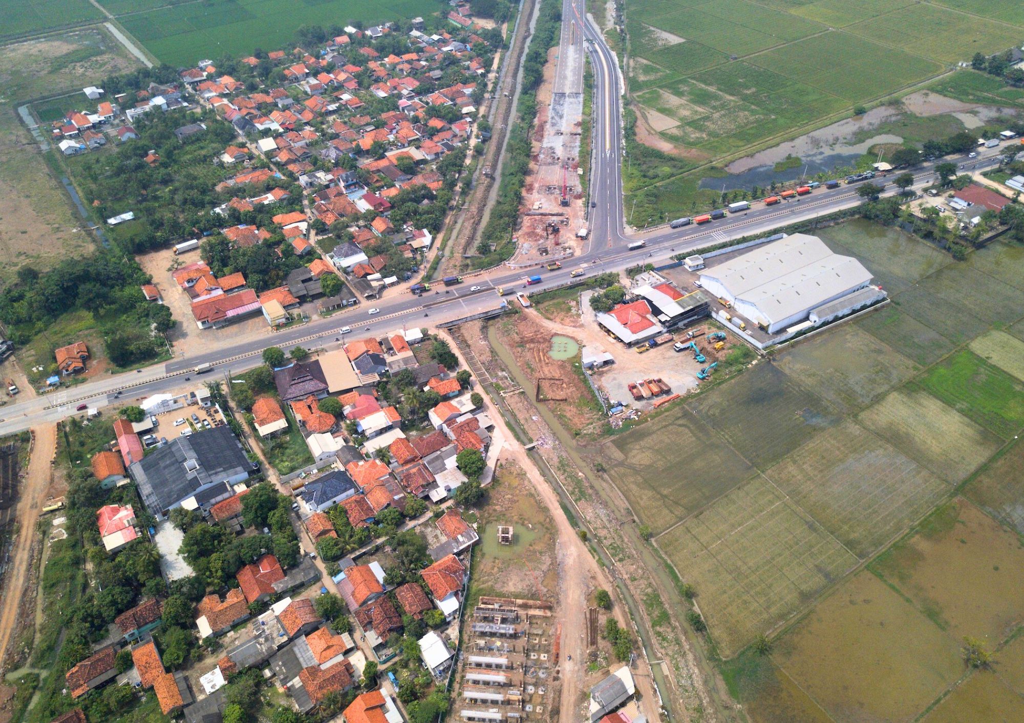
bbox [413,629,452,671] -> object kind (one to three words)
house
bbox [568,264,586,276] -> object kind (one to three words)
vehicle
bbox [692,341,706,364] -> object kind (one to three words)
work vehicle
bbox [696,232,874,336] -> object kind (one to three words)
building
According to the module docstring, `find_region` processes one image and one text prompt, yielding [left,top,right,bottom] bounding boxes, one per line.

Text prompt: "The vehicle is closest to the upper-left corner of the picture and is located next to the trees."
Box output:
[170,237,201,253]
